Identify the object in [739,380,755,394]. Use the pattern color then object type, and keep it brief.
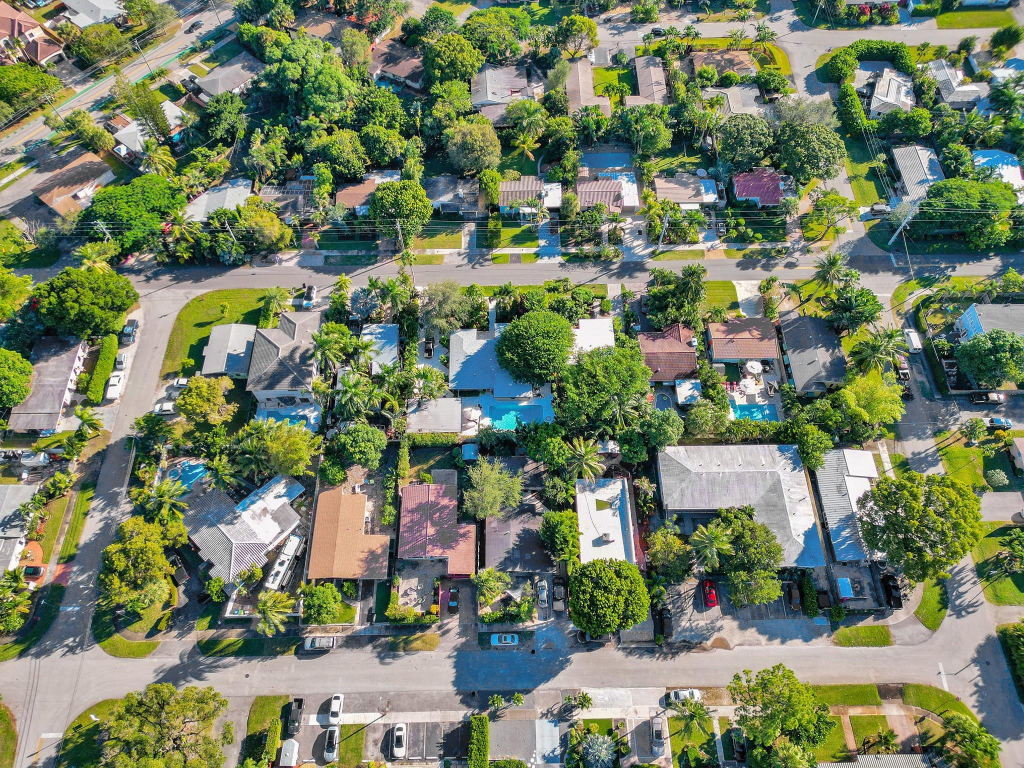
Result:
white umbrella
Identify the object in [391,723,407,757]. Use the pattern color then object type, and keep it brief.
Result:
white car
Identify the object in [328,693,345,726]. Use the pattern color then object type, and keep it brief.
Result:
white car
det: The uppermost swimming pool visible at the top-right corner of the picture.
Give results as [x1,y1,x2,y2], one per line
[861,60,894,72]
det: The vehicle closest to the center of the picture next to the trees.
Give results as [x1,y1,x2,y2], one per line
[423,336,435,361]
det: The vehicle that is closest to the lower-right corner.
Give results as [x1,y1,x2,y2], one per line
[881,575,901,610]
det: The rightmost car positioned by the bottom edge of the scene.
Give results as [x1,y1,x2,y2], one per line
[730,728,748,763]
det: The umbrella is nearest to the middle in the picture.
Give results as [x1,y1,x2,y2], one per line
[465,407,480,421]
